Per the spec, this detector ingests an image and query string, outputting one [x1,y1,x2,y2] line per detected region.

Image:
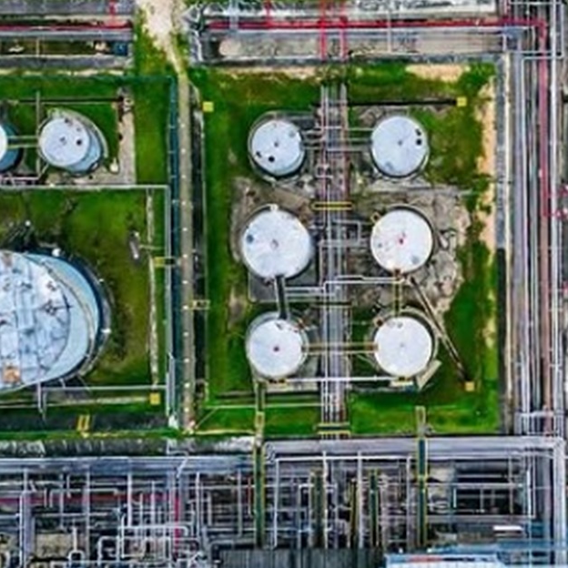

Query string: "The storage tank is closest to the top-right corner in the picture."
[362,115,429,186]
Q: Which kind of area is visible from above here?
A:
industrial area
